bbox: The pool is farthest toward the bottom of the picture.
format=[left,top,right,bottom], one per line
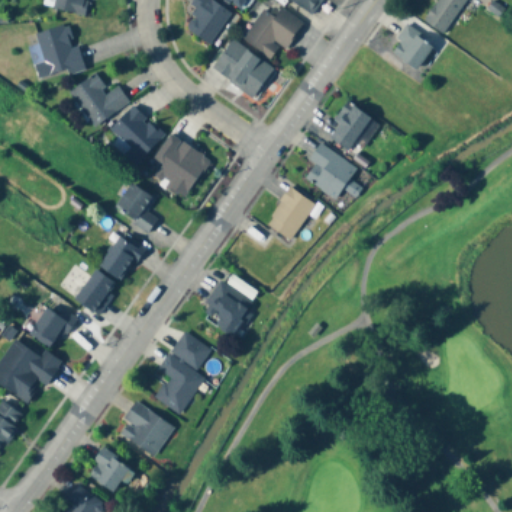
[205,358,222,376]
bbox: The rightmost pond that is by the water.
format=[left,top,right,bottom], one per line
[471,225,512,356]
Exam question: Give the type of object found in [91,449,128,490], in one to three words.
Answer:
house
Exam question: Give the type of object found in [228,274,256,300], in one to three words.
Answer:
camper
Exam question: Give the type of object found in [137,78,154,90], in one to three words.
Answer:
vehicle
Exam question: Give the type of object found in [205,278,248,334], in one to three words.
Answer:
house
